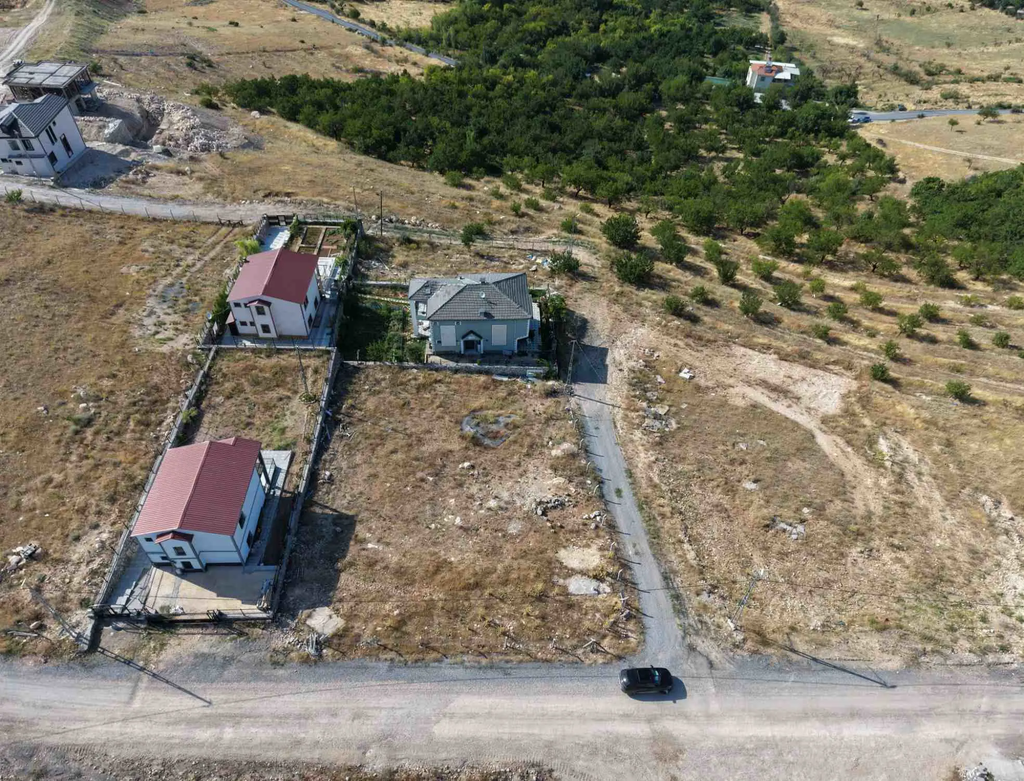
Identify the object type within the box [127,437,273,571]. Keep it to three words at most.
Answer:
house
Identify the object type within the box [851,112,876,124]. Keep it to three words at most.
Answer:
vehicle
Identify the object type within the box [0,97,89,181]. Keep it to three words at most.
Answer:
house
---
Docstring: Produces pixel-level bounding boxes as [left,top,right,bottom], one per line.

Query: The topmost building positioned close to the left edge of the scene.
[1,61,115,126]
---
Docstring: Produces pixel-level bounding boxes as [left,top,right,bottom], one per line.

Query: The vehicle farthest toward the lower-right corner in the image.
[619,667,674,697]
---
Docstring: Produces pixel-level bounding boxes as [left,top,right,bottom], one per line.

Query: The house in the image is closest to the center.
[408,271,533,359]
